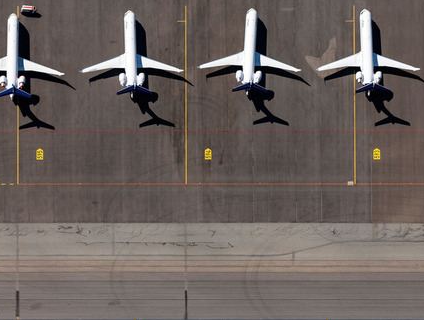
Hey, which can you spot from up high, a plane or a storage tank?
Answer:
plane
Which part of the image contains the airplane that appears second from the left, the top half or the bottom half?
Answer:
top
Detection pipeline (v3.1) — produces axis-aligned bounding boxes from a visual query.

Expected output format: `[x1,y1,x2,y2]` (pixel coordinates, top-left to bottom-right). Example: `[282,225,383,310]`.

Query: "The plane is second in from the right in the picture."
[198,8,300,94]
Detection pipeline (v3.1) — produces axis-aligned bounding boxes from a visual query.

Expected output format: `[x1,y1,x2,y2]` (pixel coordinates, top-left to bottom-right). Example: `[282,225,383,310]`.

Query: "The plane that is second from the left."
[81,10,182,96]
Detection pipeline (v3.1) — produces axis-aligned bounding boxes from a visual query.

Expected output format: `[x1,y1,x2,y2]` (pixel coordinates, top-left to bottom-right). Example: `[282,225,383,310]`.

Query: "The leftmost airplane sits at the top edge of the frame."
[0,13,63,99]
